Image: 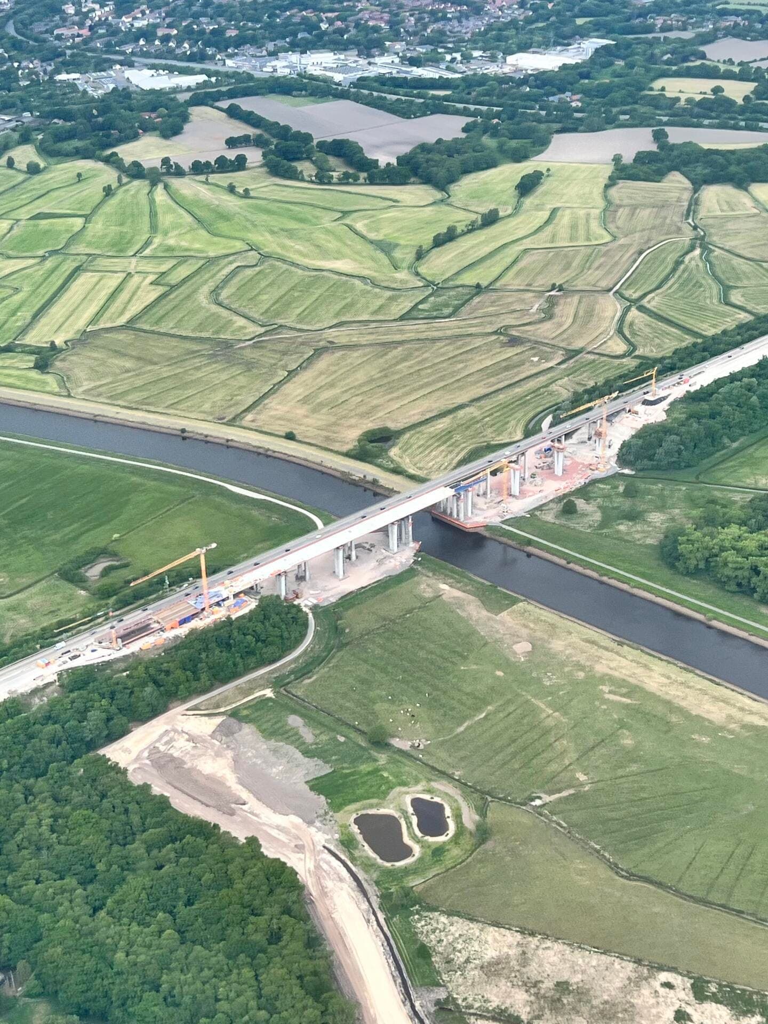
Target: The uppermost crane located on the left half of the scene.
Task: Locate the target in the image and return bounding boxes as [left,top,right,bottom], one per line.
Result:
[131,540,222,614]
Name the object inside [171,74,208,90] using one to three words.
building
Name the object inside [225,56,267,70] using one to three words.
building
